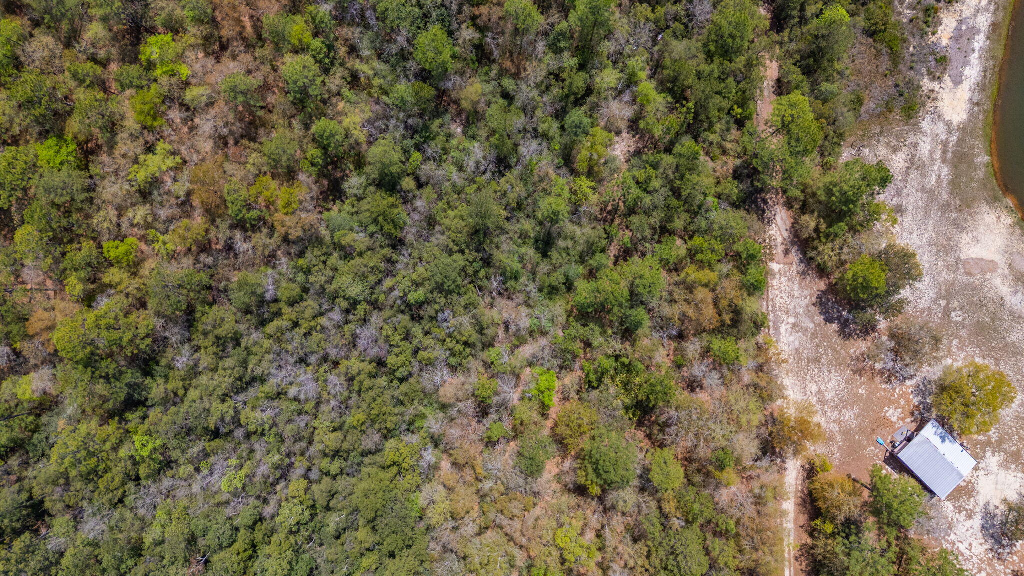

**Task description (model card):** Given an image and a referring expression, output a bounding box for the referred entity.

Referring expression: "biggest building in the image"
[887,419,977,500]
